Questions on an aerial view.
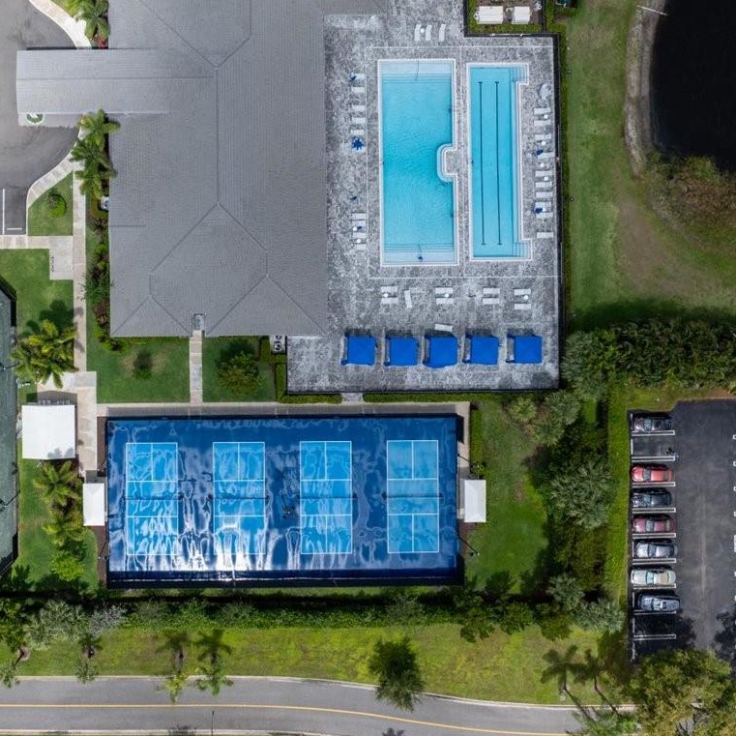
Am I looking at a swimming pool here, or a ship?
swimming pool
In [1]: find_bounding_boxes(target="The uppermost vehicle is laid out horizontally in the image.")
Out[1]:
[626,415,675,434]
